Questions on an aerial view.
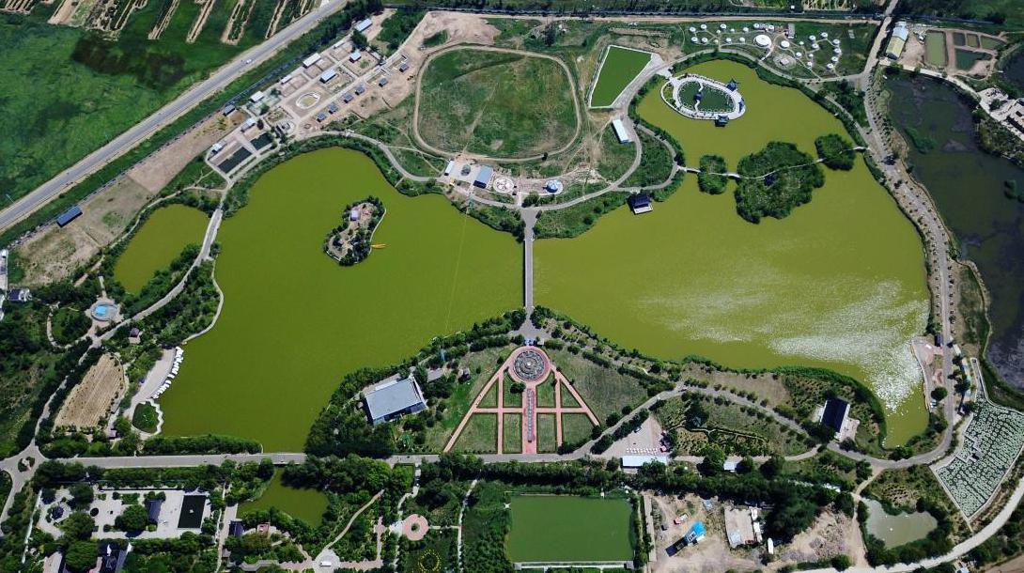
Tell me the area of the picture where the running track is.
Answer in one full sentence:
The running track is located in the top region of the scene.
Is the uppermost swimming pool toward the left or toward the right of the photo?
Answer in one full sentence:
The uppermost swimming pool is on the left side of the image.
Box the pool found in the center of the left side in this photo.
[87,298,121,324]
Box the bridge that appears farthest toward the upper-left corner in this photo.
[190,207,222,271]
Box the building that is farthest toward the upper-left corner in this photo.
[57,206,85,229]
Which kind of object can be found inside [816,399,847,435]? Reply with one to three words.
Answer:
building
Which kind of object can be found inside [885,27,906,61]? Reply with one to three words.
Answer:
barn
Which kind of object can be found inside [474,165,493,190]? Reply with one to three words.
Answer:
building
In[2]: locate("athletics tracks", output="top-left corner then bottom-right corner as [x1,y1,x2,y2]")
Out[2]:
[413,44,582,162]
